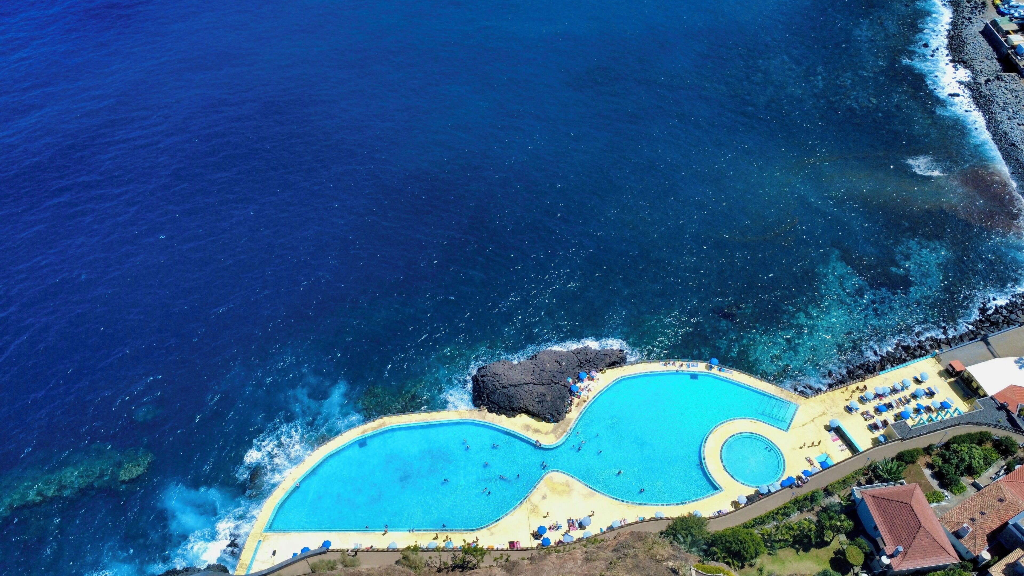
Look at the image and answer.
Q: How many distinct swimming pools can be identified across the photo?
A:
2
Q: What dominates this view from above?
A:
water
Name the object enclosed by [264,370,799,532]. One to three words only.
swimming pool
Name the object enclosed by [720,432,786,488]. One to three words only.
swimming pool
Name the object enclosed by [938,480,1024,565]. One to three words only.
house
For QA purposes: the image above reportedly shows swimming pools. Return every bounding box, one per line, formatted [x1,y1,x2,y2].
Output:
[264,370,799,532]
[720,432,786,488]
